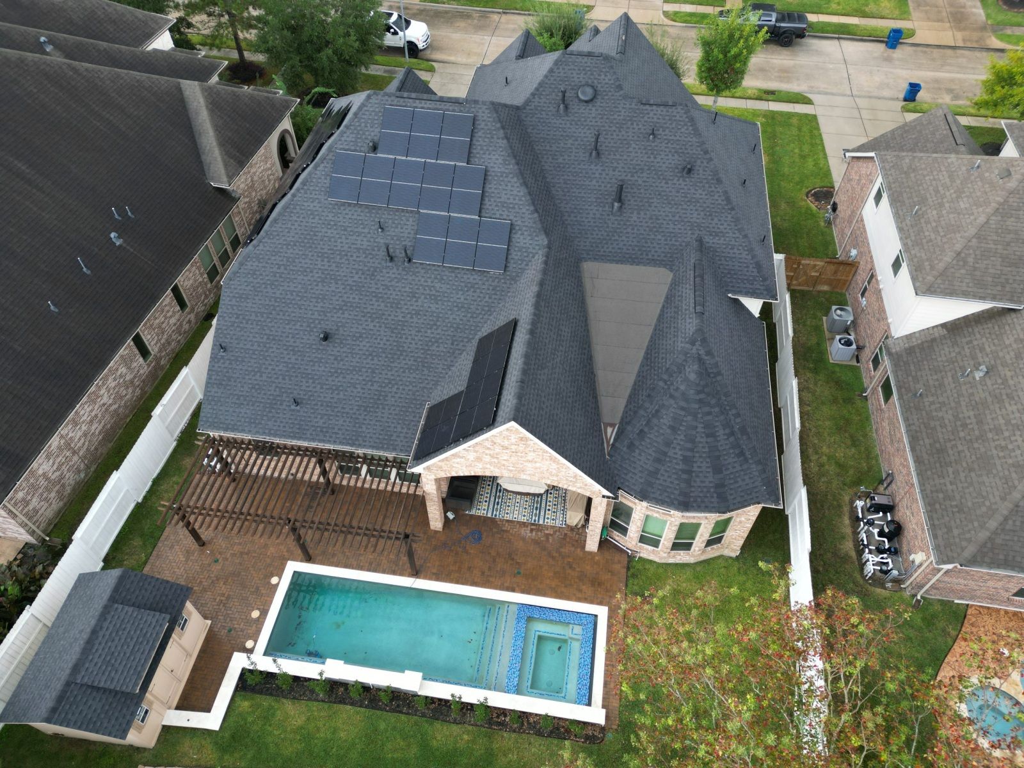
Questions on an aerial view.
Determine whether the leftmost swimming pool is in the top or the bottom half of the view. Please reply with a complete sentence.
The bottom half of the photo is where the leftmost swimming pool is.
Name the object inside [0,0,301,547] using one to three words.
house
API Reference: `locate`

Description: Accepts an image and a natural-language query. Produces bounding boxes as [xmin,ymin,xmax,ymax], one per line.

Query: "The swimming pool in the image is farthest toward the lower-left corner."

[159,560,609,731]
